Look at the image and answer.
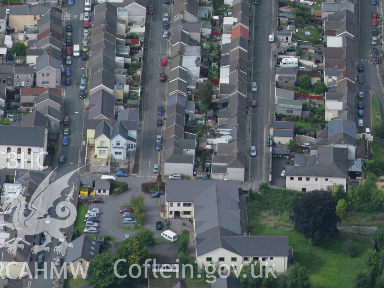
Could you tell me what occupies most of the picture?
buildings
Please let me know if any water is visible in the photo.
No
